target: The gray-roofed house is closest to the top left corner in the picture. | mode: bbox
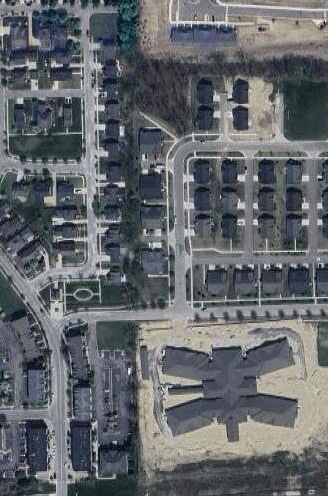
[9,24,27,50]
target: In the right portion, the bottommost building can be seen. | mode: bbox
[161,337,299,441]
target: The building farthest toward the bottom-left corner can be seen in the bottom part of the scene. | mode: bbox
[25,427,47,472]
